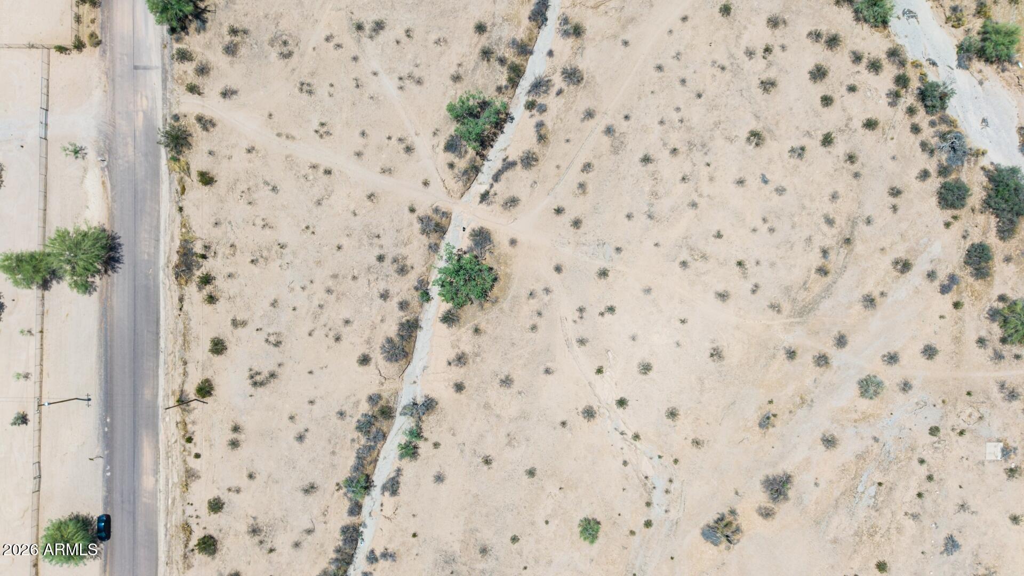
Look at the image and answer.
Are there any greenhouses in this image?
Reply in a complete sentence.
No, the scene contains no greenhouse.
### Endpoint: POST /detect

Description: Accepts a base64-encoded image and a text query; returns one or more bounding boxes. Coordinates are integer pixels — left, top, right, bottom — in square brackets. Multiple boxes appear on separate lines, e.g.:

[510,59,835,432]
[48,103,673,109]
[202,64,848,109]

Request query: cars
[96,513,112,541]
